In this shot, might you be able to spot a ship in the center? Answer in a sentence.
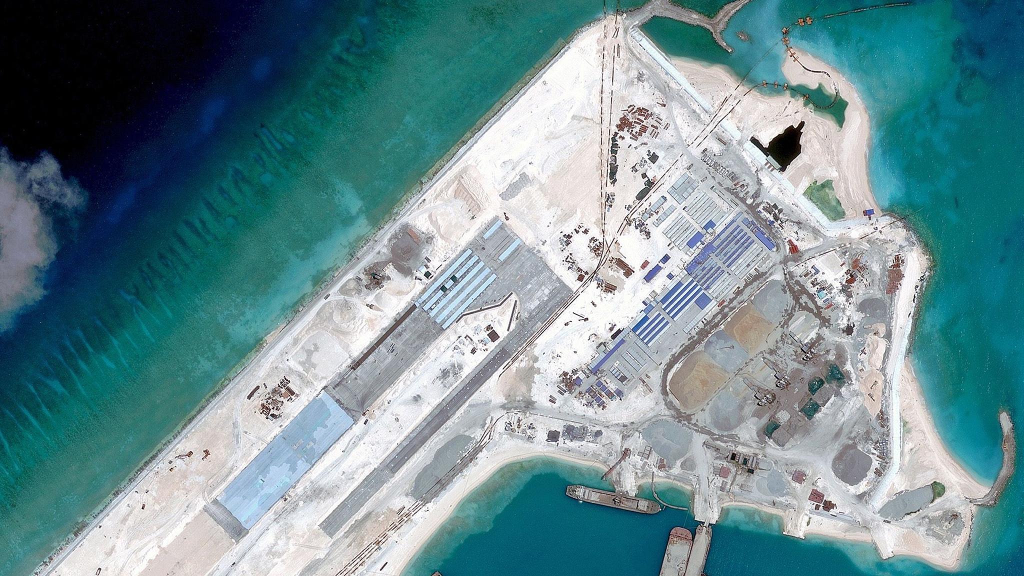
No, no ship appears in the center.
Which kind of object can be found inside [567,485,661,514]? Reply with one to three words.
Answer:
ship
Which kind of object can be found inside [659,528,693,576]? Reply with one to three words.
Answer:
ship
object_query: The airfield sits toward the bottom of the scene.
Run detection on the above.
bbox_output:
[203,217,573,541]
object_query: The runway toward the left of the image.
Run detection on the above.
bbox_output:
[205,217,528,540]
